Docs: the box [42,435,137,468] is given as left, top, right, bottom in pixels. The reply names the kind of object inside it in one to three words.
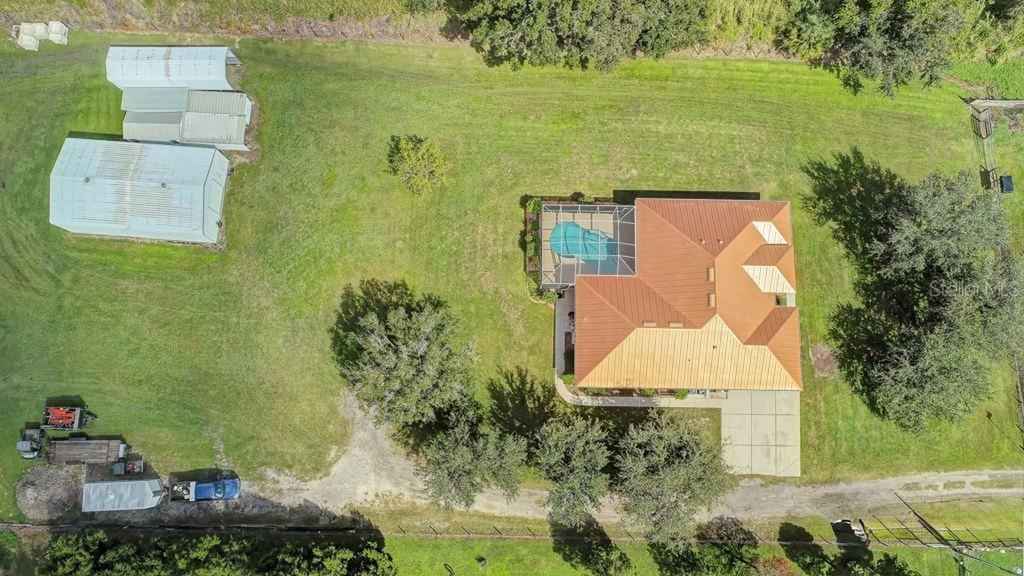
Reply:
trailer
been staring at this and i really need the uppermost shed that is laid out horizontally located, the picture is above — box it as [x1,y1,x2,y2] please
[103,45,238,93]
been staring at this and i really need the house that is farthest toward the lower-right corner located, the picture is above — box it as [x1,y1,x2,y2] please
[574,199,804,391]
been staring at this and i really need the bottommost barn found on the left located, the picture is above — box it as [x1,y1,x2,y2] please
[47,135,229,244]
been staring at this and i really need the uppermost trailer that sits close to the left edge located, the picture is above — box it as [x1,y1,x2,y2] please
[38,404,100,433]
